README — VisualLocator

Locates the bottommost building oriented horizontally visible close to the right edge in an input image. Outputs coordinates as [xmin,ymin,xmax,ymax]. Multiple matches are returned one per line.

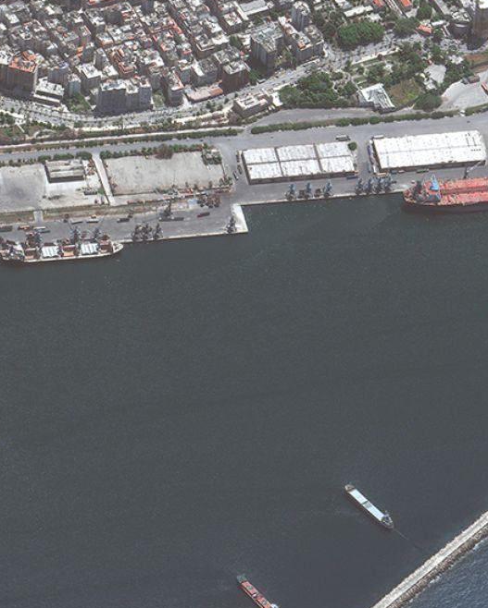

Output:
[373,130,485,173]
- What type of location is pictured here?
port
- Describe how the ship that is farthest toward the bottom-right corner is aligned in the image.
on a diagonal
